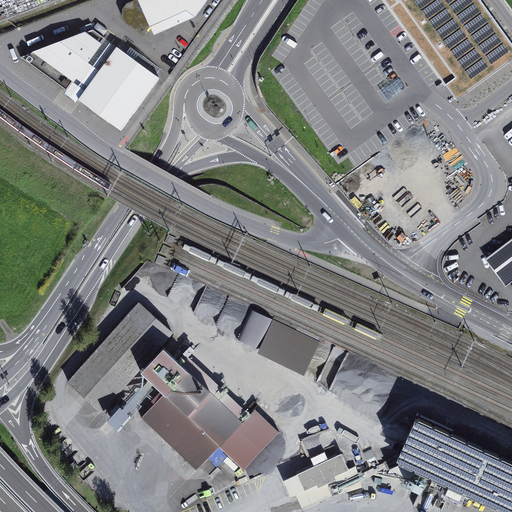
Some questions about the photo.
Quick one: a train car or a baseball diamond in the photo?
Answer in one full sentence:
Visible in the photo is a train car.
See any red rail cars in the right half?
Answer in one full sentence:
No, I see no red rail car in the right half.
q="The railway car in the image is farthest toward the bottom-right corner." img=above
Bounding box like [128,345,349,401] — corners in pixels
[353,322,383,340]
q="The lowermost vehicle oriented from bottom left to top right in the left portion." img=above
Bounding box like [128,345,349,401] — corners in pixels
[180,494,200,509]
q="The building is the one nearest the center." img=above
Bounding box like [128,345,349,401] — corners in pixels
[238,310,272,352]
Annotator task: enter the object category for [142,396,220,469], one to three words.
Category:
building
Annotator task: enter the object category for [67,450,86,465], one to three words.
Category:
vehicle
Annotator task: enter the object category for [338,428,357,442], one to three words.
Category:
vehicle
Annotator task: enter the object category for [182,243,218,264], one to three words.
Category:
rail car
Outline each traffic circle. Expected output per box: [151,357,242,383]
[172,68,244,139]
